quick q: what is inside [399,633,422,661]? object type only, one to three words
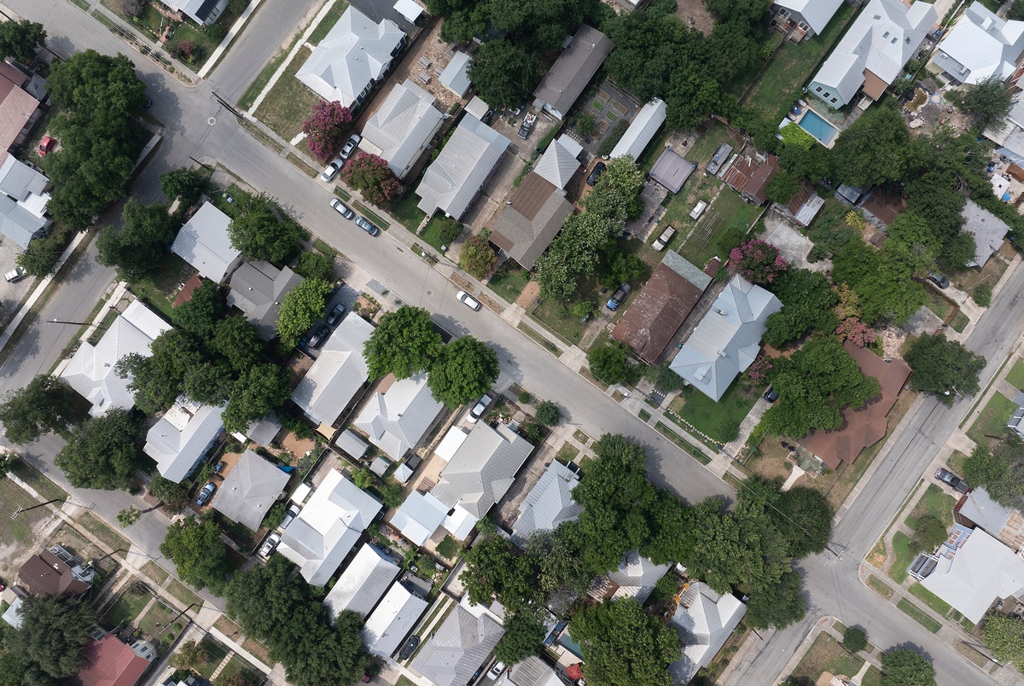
car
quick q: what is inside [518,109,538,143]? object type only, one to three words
vehicle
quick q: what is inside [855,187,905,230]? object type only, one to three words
barn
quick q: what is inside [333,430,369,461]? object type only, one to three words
shed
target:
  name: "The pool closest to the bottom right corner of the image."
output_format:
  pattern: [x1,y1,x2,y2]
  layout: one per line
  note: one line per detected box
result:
[556,633,589,668]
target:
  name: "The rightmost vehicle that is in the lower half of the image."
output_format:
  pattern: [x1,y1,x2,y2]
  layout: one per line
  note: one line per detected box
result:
[935,467,967,493]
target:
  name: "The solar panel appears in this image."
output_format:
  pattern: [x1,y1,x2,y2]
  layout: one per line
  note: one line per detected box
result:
[195,0,218,20]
